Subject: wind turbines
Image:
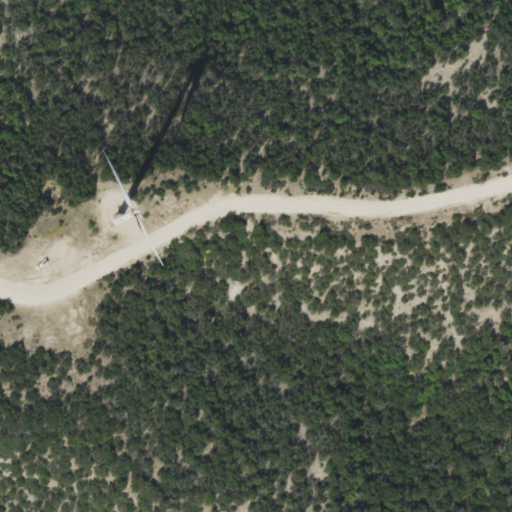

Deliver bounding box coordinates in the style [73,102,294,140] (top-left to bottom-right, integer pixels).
[102,150,163,266]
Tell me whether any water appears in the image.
No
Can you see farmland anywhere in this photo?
No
